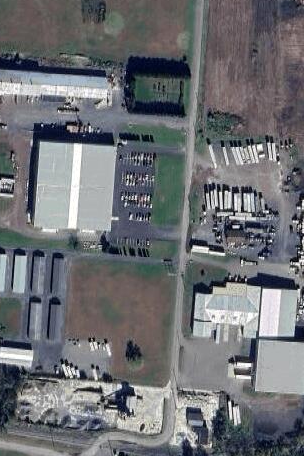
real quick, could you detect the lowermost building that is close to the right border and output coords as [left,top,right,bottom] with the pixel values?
[256,339,304,394]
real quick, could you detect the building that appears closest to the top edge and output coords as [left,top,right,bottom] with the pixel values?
[0,66,115,104]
